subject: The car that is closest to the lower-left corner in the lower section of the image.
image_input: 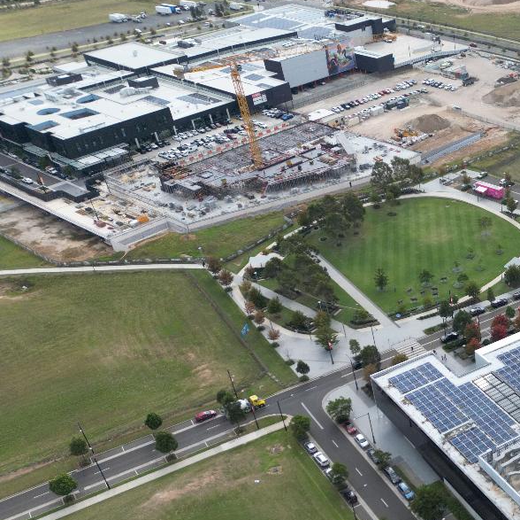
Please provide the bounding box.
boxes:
[195,410,217,423]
